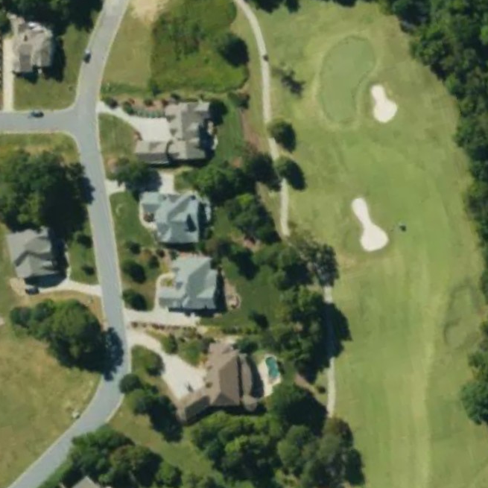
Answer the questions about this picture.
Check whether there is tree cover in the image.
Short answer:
Yes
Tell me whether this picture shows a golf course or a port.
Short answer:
golf course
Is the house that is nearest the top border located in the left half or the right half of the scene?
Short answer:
left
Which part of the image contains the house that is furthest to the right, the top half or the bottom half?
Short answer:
bottom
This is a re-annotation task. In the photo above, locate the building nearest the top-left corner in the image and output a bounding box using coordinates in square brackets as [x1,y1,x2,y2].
[13,23,54,73]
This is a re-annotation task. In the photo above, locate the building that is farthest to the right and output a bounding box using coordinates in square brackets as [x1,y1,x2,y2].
[205,342,260,413]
